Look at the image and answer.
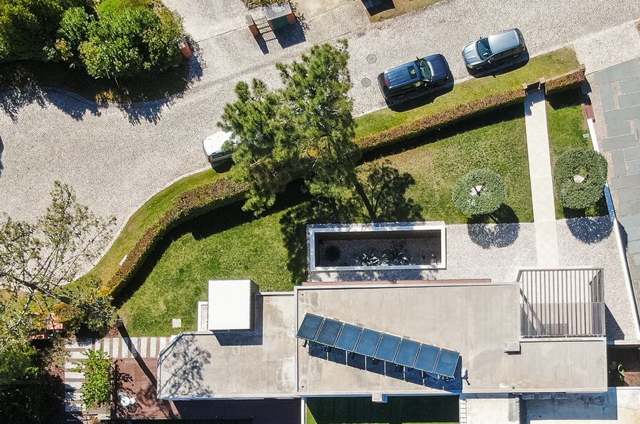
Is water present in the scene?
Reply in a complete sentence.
No, the picture contains no water.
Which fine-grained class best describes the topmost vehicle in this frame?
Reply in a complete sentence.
It looks like the topmost vehicle is an automobile.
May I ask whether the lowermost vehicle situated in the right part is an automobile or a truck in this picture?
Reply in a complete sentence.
Specifically, the lowermost vehicle situated in the right part is an automobile.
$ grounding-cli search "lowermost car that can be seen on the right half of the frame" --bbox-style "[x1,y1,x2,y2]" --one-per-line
[377,53,454,102]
